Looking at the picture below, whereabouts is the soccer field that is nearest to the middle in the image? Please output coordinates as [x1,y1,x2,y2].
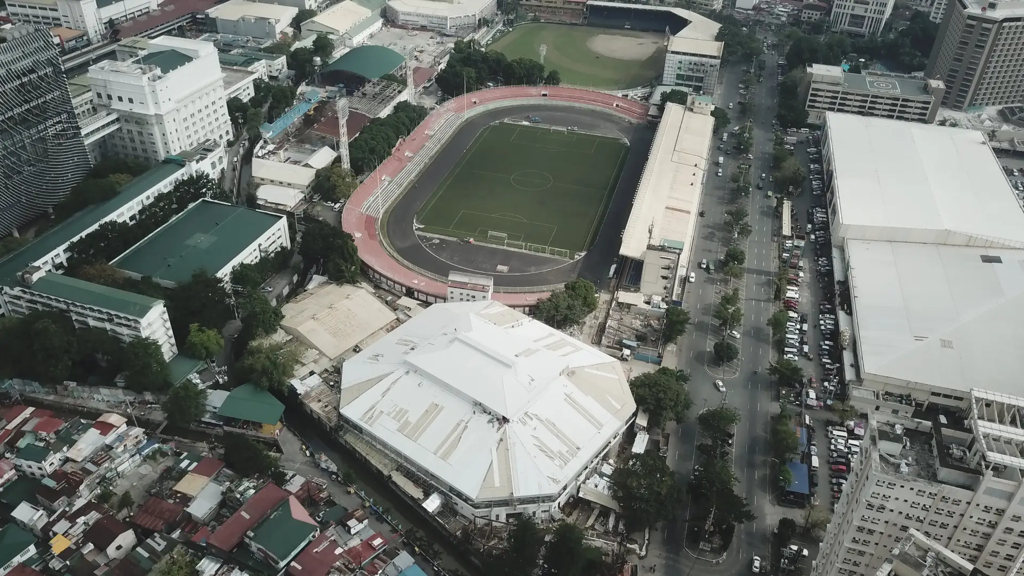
[405,122,633,261]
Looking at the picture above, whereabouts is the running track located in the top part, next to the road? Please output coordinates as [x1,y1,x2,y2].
[387,105,660,311]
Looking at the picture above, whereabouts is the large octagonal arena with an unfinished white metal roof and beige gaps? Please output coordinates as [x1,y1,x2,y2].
[340,300,635,533]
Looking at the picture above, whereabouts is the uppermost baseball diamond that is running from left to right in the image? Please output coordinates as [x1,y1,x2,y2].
[481,24,669,88]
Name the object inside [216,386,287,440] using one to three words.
building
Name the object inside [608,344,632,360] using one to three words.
vehicle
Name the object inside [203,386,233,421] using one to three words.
house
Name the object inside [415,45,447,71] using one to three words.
shed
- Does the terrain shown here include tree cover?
Yes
